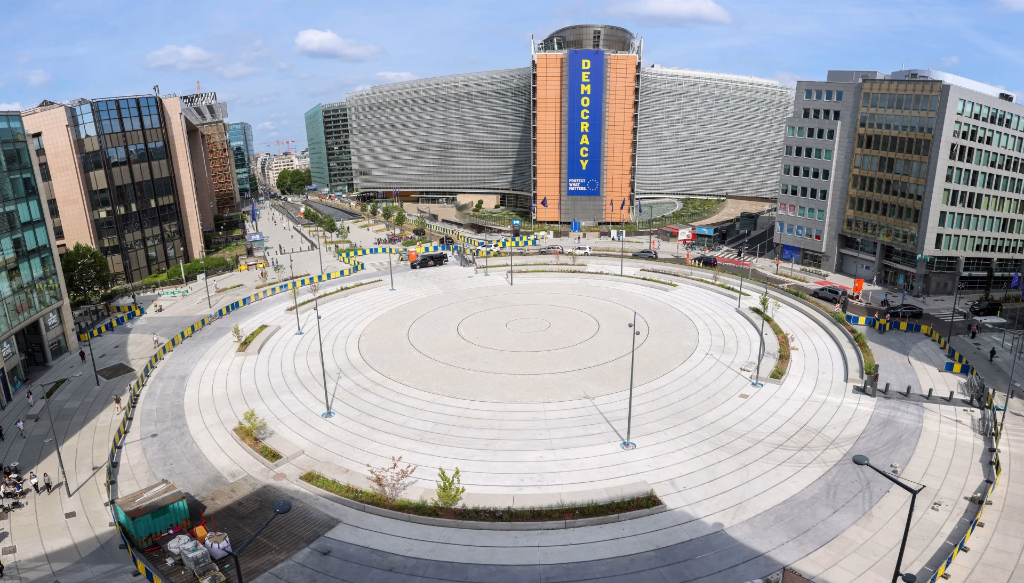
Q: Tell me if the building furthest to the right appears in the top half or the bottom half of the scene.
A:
top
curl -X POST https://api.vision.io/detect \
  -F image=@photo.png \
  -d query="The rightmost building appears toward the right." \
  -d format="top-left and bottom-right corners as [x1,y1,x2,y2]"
[773,61,1024,296]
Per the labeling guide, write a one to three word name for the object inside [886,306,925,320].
car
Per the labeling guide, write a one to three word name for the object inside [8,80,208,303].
building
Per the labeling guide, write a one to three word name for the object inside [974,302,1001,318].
car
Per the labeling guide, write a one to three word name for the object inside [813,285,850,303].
vehicle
